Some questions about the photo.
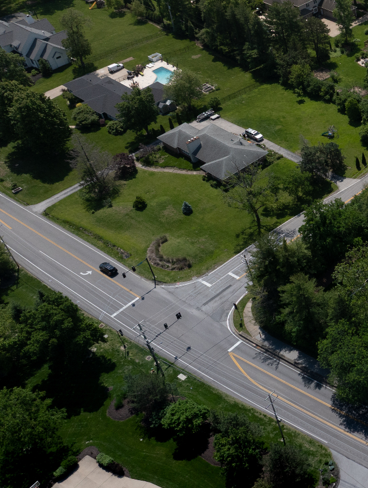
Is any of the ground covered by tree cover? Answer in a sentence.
Yes, there is tree cover in the image.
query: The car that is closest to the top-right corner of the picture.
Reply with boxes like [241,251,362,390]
[244,126,263,140]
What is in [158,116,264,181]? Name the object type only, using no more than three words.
house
